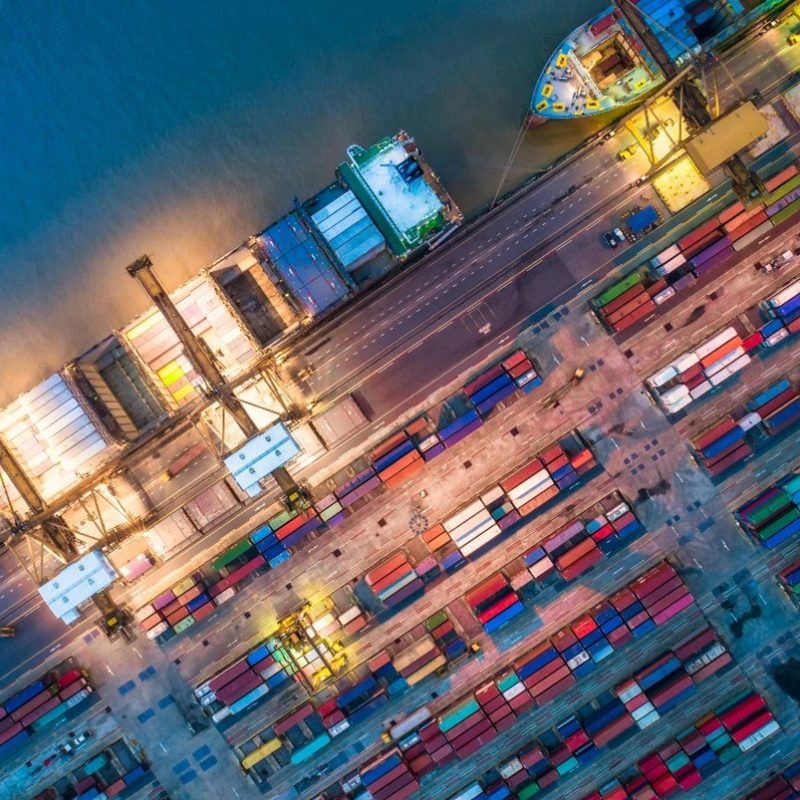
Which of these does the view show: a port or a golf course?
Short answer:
port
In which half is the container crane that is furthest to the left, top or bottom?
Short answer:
bottom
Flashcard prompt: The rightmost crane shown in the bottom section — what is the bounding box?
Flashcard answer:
[280,599,353,689]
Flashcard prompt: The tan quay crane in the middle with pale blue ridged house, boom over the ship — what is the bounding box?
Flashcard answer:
[119,249,312,515]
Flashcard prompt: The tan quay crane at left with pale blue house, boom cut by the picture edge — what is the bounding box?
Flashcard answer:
[0,434,154,637]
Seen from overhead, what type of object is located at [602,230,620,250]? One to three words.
car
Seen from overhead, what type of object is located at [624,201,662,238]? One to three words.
trailer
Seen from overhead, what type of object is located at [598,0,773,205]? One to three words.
container crane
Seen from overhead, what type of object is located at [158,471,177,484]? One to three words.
vehicle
